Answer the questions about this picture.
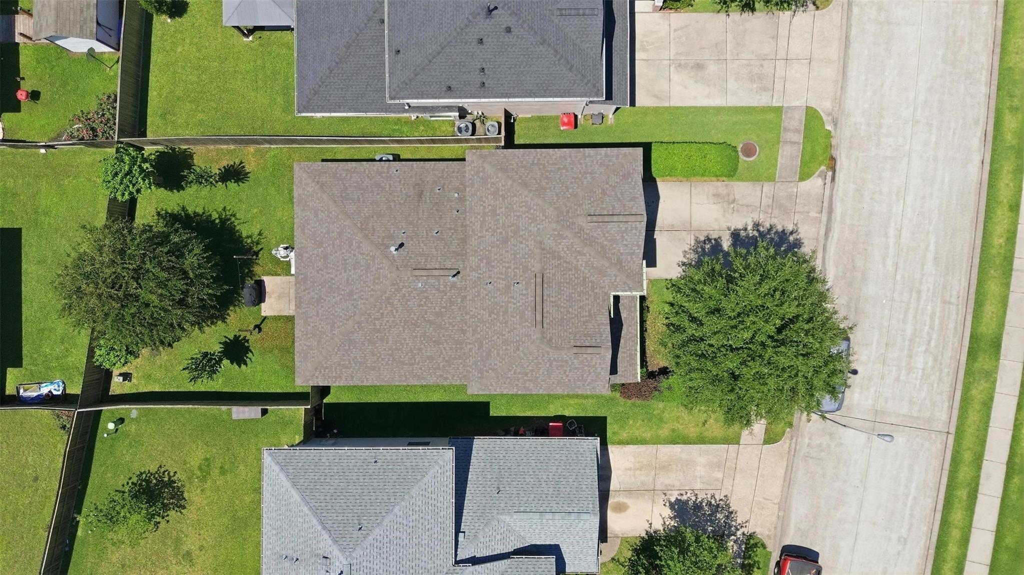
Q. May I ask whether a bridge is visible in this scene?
No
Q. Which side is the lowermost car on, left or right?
right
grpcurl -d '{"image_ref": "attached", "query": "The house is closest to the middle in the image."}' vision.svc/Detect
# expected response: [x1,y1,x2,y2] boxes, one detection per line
[295,149,647,394]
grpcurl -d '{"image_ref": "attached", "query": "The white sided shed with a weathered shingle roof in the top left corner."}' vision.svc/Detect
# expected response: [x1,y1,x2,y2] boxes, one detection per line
[33,0,120,52]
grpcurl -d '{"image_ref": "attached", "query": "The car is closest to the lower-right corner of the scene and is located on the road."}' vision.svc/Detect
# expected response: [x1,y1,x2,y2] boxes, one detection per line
[775,553,822,575]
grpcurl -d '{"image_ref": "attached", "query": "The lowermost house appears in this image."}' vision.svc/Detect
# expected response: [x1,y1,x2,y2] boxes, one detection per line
[260,433,603,575]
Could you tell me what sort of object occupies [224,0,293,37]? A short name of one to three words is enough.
gazebo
